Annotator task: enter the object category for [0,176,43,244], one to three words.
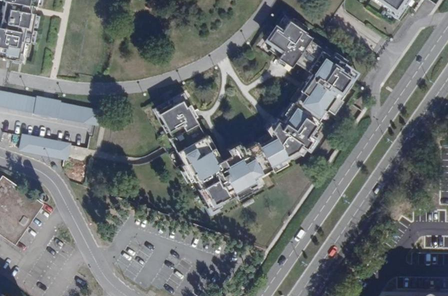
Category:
building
